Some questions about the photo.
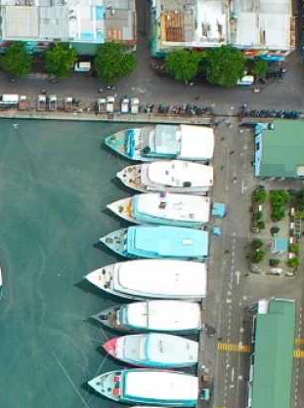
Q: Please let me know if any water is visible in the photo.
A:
Yes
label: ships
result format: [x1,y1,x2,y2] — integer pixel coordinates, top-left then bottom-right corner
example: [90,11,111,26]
[87,258,213,300]
[104,330,203,366]
[106,121,219,160]
[93,299,206,334]
[118,158,218,194]
[101,225,212,259]
[108,190,213,228]
[89,367,203,405]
